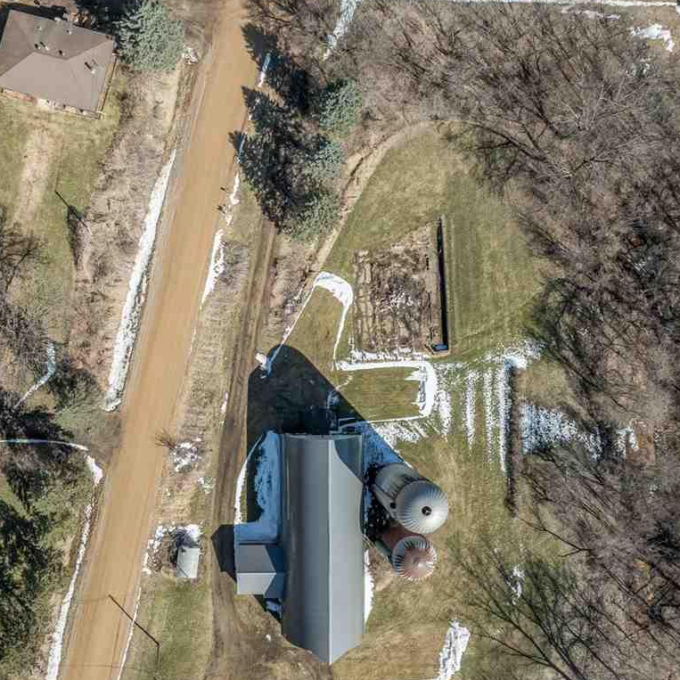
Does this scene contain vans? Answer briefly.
No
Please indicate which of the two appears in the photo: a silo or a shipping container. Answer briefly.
silo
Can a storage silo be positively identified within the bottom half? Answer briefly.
Yes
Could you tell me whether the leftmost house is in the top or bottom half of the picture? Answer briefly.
top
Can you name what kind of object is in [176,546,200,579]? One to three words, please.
shed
